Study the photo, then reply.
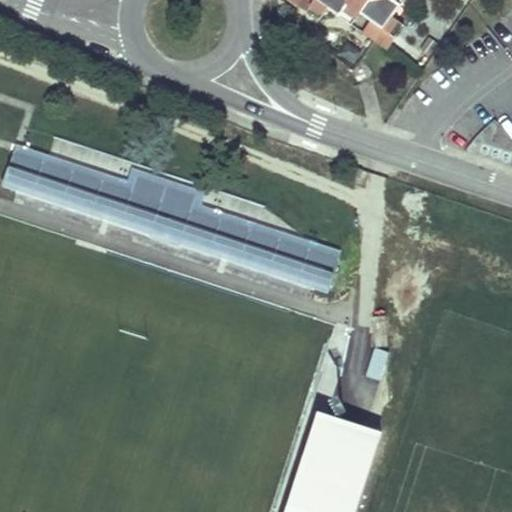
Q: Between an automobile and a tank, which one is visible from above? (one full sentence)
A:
Visible in the photo is an automobile.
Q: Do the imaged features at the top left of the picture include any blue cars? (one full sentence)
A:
No, I can find no blue car at the top left of the picture.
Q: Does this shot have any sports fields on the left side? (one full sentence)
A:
Yes, a sports field shows up on the left side.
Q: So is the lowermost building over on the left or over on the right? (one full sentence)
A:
The lowermost building sits on the right side.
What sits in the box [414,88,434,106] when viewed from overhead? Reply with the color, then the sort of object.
white car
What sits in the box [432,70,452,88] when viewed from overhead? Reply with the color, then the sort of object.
white car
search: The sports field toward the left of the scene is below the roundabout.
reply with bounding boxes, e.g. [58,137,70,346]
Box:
[0,216,332,512]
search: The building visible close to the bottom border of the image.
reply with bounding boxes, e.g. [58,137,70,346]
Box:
[284,412,382,512]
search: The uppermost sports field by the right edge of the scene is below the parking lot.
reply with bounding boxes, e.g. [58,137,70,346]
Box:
[400,310,512,468]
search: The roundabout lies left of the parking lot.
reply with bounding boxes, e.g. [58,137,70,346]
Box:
[111,0,253,86]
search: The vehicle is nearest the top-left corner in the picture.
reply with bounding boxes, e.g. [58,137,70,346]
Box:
[88,40,112,57]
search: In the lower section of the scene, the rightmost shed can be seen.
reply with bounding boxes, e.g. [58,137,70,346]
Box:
[366,348,390,381]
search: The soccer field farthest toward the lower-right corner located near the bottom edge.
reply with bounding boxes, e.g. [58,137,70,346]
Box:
[396,443,512,512]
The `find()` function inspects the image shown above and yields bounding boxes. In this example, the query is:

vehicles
[474,104,492,124]
[372,308,387,316]
[414,88,434,106]
[481,33,498,54]
[88,40,112,57]
[443,66,463,83]
[432,70,452,88]
[471,37,488,58]
[448,130,468,148]
[500,117,512,142]
[494,22,512,44]
[463,45,479,66]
